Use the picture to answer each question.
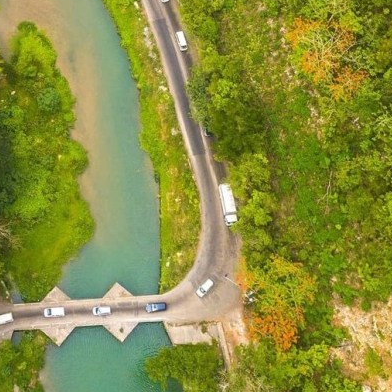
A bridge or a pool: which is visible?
bridge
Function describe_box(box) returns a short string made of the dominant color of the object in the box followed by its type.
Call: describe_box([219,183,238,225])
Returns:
white vehicle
